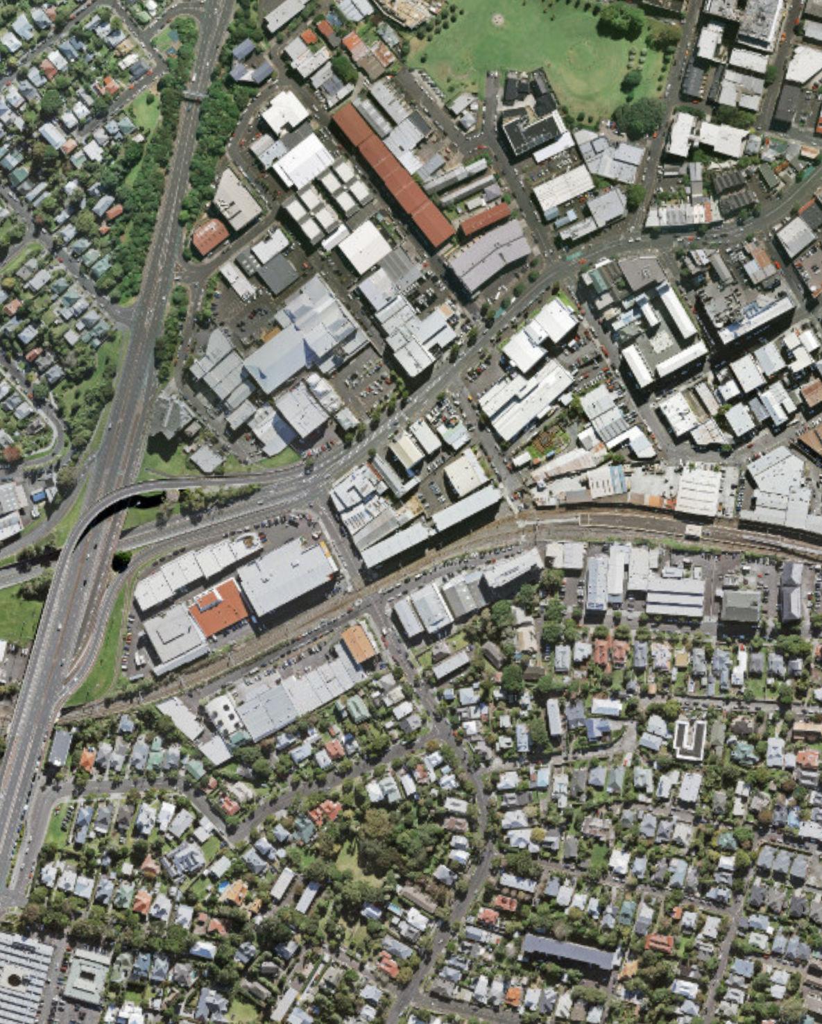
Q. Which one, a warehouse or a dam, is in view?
warehouse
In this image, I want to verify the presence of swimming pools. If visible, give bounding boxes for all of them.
[216,880,229,892]
[387,903,402,915]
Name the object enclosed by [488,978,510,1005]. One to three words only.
house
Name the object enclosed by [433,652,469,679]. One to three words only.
building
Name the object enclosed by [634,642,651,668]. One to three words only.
house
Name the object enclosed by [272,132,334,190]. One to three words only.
building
